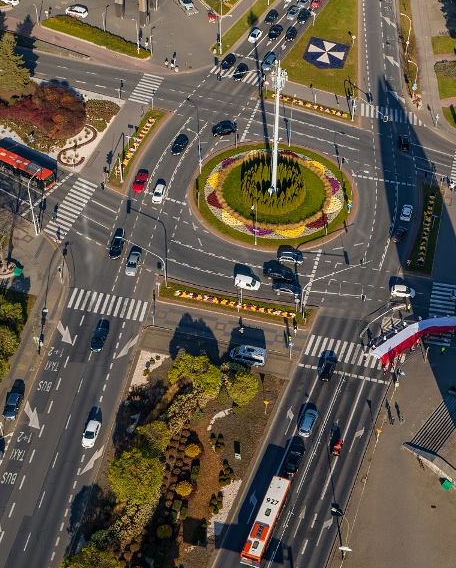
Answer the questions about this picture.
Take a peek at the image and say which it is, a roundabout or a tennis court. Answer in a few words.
roundabout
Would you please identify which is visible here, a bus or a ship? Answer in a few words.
bus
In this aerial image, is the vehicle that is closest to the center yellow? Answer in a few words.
No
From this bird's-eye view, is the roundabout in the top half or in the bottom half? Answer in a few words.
top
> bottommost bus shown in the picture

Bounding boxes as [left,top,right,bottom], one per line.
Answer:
[244,477,299,568]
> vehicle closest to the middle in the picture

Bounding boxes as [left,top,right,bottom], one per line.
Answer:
[230,271,263,292]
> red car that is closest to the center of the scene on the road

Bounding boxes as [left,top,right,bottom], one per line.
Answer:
[133,171,148,193]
